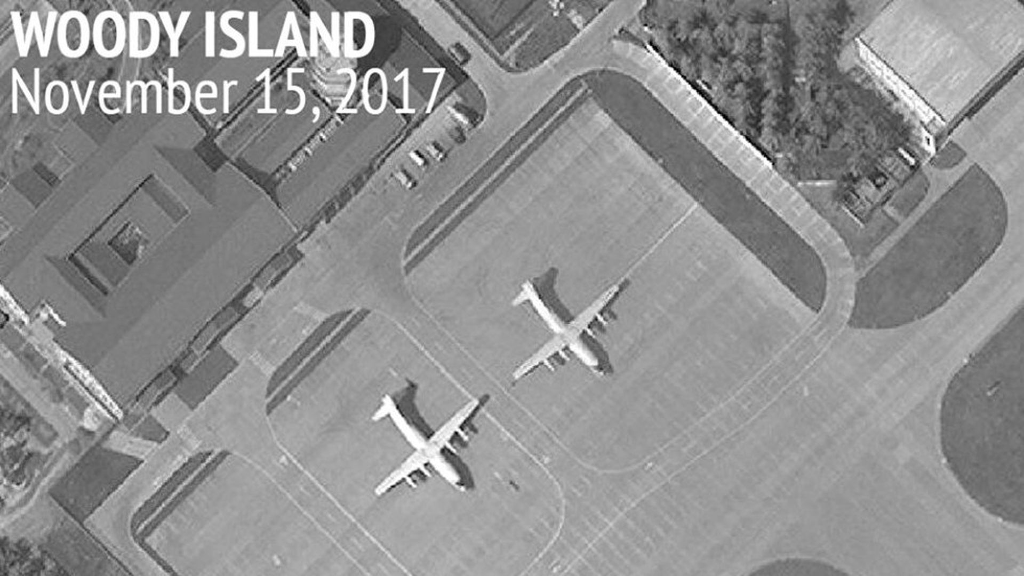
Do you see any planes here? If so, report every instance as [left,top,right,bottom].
[371,390,480,492]
[510,277,619,379]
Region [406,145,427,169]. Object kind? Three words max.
truck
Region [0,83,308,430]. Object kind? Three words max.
building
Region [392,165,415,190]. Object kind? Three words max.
truck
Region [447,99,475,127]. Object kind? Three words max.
bus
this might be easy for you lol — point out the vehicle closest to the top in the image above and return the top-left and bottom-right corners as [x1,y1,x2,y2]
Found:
[447,40,469,65]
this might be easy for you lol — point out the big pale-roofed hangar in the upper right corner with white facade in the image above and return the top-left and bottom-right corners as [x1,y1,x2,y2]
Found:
[854,0,1024,139]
